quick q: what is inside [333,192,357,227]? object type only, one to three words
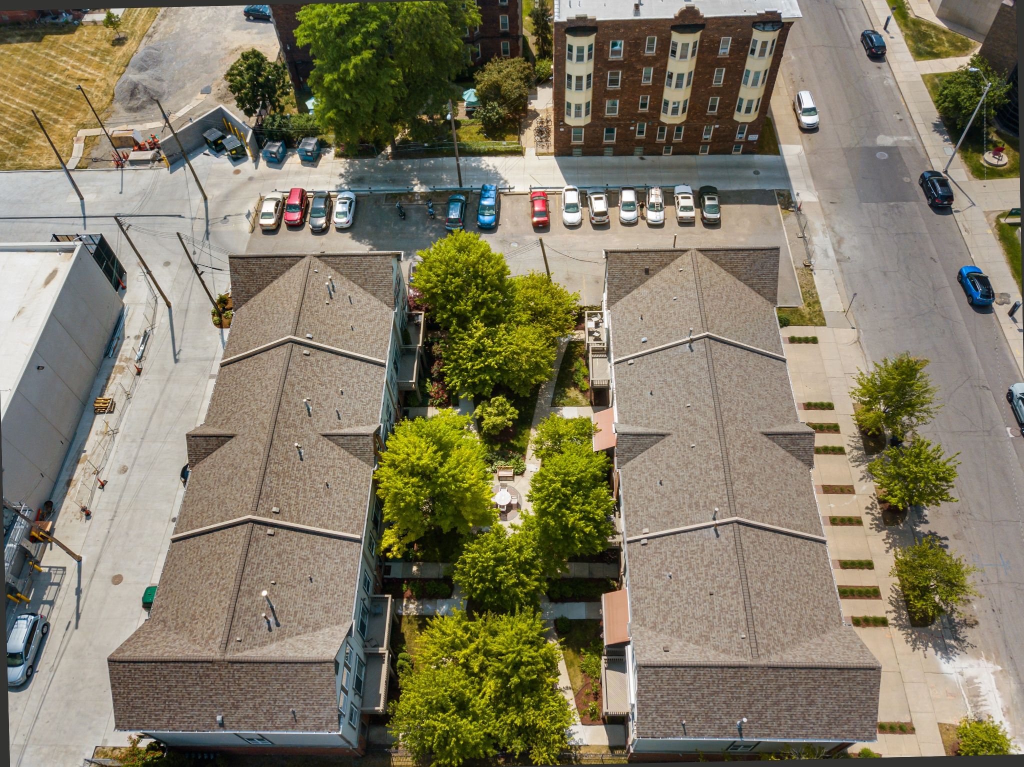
car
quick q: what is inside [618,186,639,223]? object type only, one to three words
car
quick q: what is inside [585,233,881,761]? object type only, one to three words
house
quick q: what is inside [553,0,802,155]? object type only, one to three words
building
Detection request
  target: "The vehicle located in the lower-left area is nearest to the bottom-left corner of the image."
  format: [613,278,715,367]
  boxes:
[2,610,49,687]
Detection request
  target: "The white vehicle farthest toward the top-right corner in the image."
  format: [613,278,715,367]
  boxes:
[795,93,820,129]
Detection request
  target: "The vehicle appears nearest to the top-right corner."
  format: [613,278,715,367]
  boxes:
[861,29,887,57]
